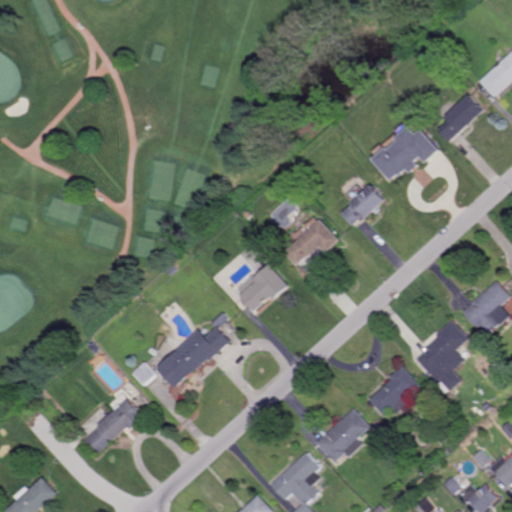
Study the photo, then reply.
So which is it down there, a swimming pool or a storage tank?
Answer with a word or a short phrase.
swimming pool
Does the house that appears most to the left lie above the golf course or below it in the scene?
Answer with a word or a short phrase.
below it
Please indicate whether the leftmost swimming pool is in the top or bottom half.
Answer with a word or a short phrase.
bottom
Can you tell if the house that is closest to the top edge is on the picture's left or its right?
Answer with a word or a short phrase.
right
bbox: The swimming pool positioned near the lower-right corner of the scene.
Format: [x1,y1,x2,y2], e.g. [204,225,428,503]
[460,459,478,477]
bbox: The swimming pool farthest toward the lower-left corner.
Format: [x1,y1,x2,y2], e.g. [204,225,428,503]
[96,362,124,392]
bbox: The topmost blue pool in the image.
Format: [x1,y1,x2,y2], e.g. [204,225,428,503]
[229,264,252,284]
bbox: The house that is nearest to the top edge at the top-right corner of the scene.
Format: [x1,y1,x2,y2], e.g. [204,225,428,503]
[479,52,512,98]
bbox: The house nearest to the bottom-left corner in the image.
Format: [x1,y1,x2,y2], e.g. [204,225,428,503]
[2,477,56,512]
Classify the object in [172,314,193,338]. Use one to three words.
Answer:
swimming pool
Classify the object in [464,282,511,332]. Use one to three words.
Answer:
house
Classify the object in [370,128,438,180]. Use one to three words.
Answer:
house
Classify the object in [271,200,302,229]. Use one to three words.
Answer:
building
